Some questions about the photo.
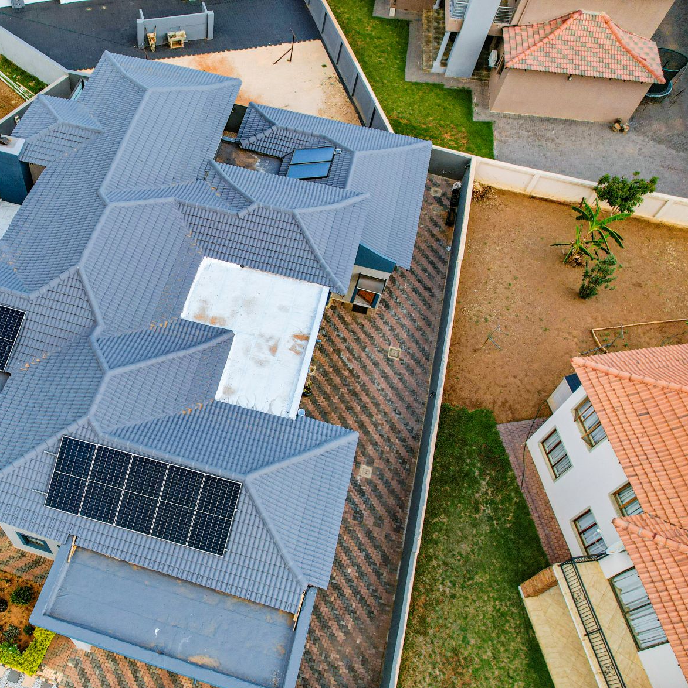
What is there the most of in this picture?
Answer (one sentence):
The largest share of the image is taken up by buildings.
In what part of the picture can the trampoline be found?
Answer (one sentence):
Look in the top right portion of the view to spot the trampoline.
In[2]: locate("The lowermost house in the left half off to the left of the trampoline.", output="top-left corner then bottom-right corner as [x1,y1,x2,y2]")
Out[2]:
[0,48,436,688]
